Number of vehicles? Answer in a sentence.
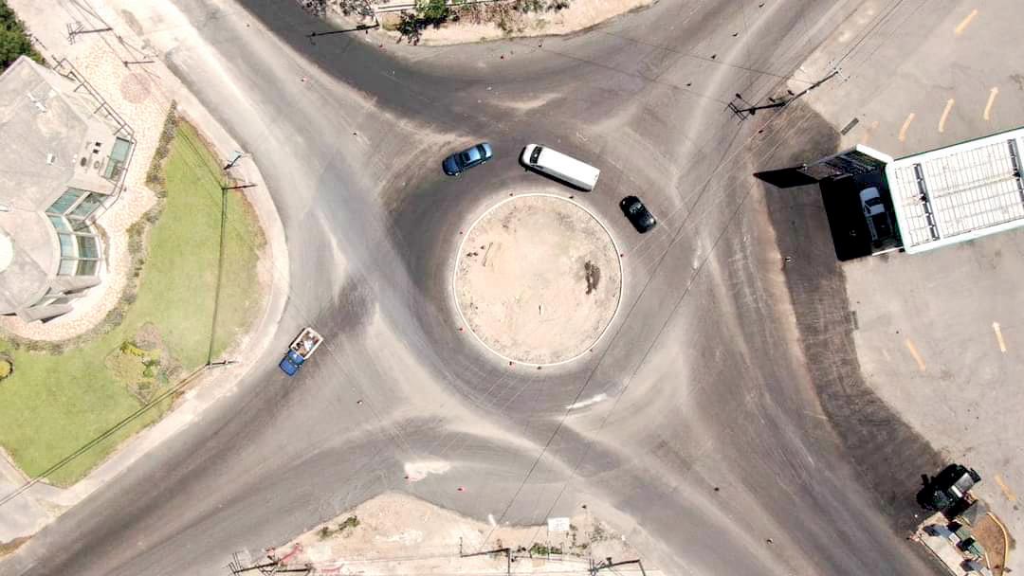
I count 6 vehicles.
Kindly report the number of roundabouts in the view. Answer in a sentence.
The picture shows 1 roundabout.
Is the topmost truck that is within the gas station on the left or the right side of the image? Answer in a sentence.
The topmost truck that is within the gas station is on the right side of the image.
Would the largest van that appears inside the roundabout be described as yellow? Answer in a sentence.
No, the largest van that appears inside the roundabout is actually white.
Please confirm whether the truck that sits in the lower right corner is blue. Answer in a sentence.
No, from above the truck that sits in the lower right corner looks black.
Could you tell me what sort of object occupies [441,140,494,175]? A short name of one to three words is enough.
car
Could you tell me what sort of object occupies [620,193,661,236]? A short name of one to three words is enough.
car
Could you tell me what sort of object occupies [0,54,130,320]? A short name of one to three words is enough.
building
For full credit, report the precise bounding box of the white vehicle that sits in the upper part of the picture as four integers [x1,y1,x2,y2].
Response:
[522,142,599,193]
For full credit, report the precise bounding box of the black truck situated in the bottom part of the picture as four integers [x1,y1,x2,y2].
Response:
[914,463,979,520]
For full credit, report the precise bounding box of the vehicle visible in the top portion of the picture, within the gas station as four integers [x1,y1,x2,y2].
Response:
[854,184,888,242]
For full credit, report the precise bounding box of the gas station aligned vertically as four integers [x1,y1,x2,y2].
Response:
[790,0,1024,576]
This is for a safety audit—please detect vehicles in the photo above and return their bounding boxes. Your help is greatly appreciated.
[441,140,494,175]
[914,463,979,520]
[620,193,661,236]
[522,142,599,193]
[854,184,888,242]
[275,324,327,377]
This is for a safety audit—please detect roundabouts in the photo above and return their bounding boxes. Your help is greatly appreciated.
[394,136,682,424]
